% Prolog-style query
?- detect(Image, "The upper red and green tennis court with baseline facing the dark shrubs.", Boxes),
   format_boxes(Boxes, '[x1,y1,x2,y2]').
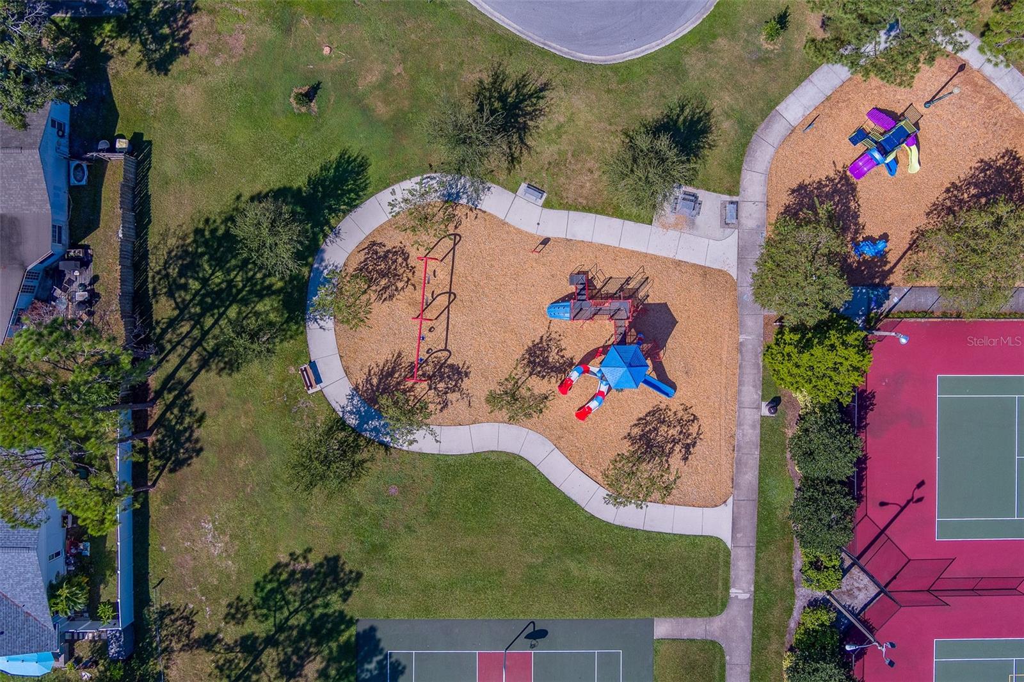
[842,321,1024,591]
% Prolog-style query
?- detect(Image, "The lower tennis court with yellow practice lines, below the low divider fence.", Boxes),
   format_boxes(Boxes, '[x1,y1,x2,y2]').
[838,591,1024,682]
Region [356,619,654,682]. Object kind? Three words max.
basketball court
